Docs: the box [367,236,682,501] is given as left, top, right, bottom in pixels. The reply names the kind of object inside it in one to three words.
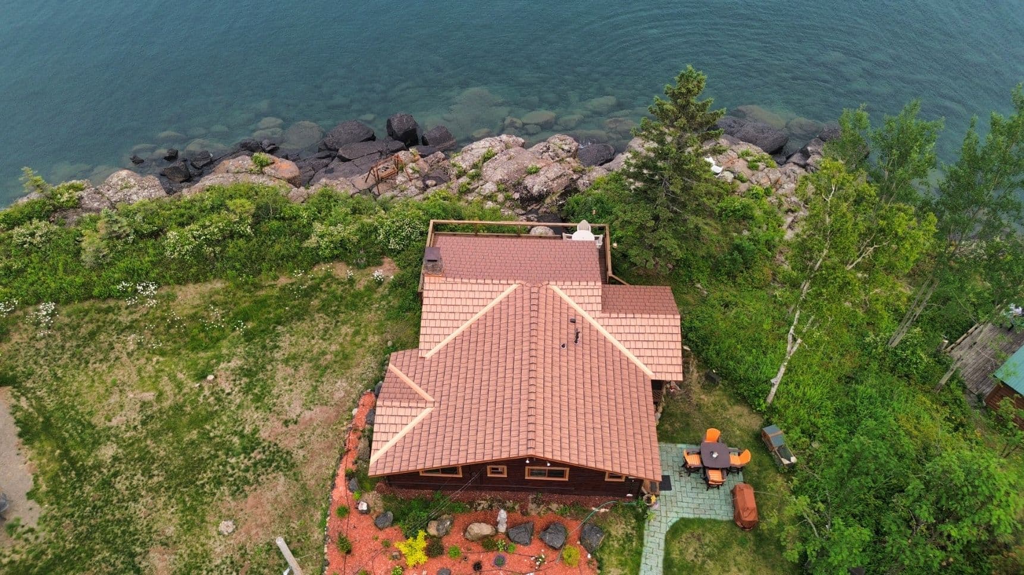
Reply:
house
